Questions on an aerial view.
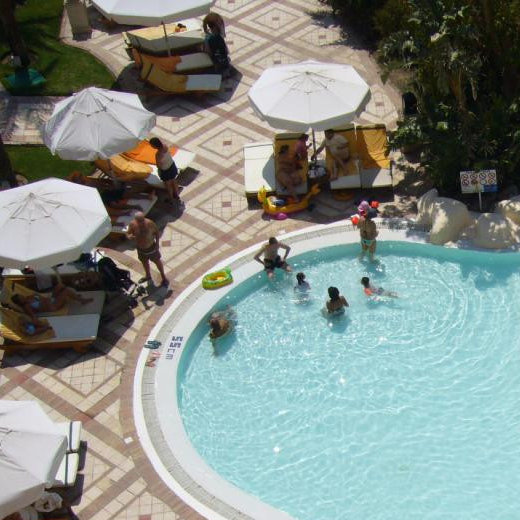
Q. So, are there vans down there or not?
No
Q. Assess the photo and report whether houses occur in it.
No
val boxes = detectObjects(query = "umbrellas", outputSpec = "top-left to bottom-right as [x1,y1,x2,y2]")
[247,58,374,167]
[0,170,114,293]
[0,404,63,520]
[41,66,162,169]
[106,0,218,59]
